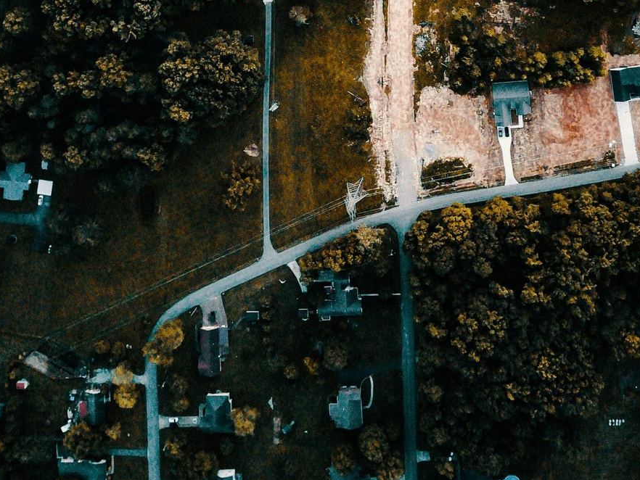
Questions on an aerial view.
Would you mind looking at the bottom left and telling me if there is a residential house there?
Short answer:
Yes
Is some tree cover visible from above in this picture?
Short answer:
Yes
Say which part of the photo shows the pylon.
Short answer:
center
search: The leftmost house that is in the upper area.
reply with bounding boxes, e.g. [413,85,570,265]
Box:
[0,161,33,202]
